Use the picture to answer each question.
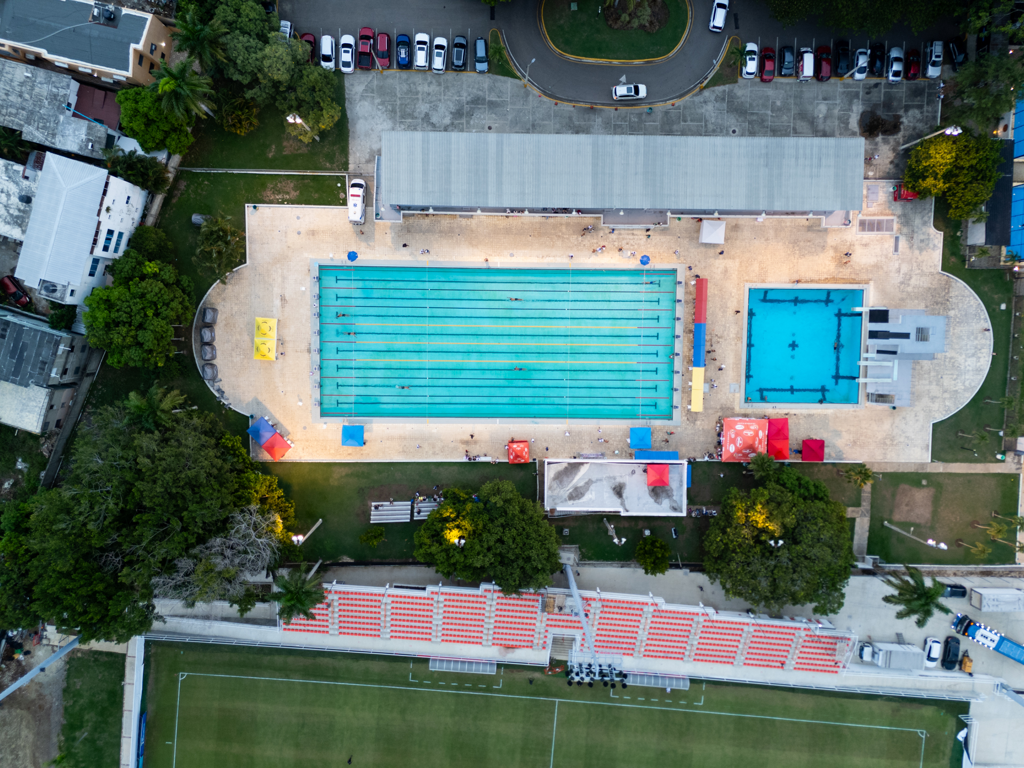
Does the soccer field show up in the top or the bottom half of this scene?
bottom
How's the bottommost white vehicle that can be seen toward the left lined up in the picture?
up and down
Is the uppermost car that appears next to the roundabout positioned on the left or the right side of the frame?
right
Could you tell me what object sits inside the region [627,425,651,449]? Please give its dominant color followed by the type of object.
blue tent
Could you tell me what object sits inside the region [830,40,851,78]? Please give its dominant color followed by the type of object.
black car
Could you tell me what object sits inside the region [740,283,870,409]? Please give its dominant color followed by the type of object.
blue swimming pool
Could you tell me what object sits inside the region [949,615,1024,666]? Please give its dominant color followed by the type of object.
blue bus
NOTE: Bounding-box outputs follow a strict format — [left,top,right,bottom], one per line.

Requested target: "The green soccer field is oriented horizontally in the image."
[139,640,968,768]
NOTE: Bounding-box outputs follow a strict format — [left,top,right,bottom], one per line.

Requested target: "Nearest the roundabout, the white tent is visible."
[697,220,726,246]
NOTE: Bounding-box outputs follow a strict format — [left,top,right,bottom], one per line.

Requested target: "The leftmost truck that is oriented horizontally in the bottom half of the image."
[861,644,926,673]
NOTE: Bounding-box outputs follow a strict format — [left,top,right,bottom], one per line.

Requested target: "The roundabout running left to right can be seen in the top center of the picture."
[534,0,698,70]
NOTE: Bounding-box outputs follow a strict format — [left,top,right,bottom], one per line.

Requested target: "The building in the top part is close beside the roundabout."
[374,132,865,230]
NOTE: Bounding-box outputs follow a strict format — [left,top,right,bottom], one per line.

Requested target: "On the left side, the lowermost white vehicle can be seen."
[347,179,368,225]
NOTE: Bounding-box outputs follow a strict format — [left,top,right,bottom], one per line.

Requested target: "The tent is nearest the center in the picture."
[509,440,529,463]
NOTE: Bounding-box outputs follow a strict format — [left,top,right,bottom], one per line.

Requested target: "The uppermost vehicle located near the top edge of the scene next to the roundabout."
[707,0,730,37]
